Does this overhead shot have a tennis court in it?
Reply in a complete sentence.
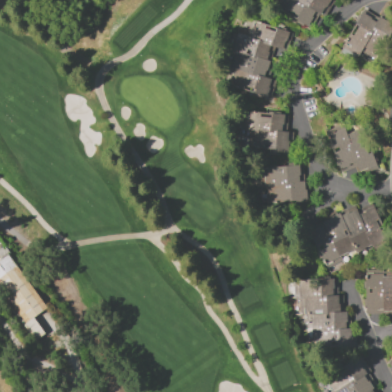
No, there's no tennis court here.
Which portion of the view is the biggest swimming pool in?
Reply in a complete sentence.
The biggest swimming pool is in the top right part of the image.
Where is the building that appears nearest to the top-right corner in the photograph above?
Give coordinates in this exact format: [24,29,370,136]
[344,8,392,56]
